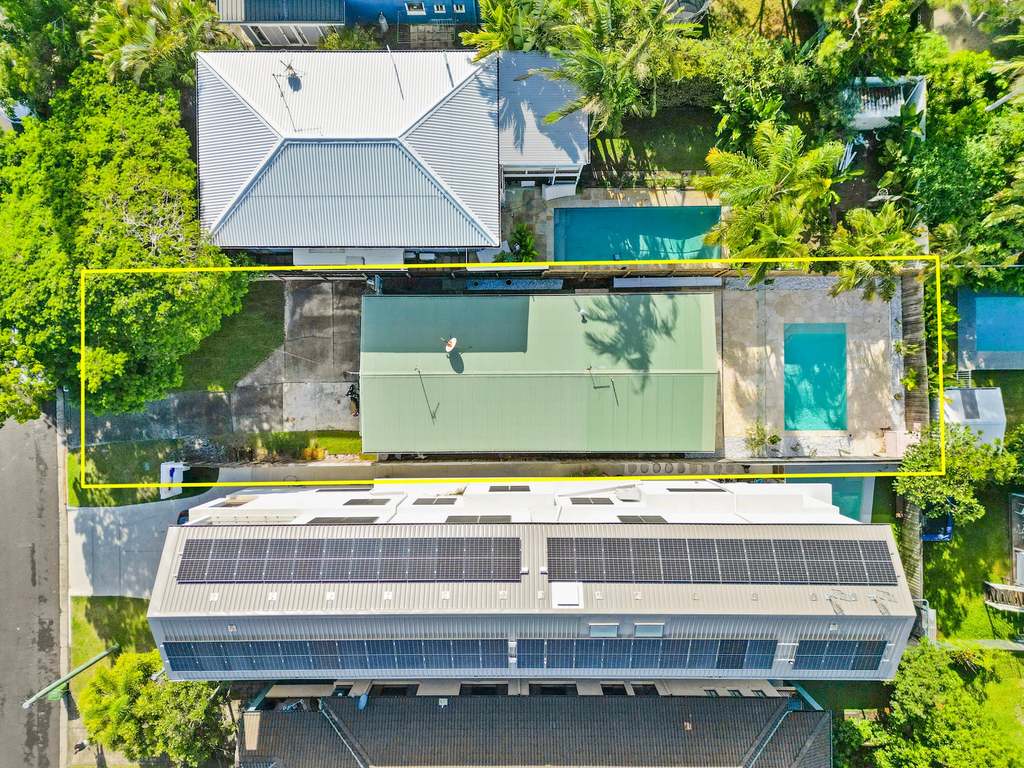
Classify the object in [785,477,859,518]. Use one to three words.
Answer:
swimming pool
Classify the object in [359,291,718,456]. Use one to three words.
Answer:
building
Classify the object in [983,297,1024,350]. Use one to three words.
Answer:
swimming pool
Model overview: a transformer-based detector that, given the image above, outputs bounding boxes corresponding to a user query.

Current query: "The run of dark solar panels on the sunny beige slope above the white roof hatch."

[547,538,902,581]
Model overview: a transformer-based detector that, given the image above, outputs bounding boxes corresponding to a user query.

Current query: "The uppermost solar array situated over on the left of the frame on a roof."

[171,538,521,581]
